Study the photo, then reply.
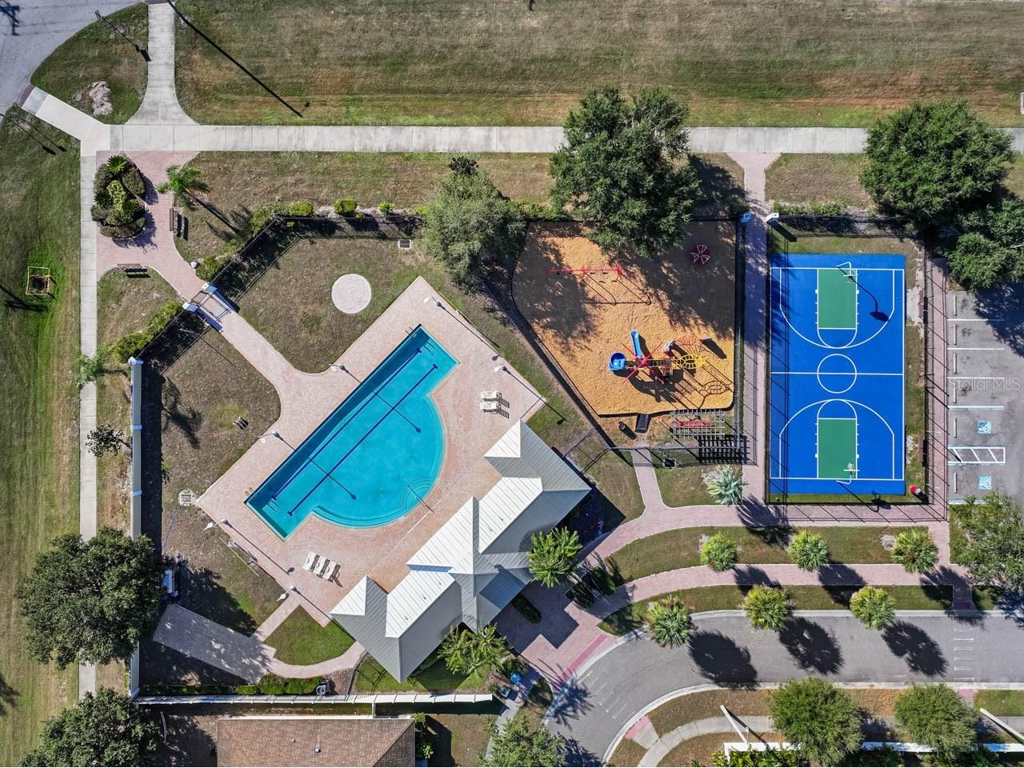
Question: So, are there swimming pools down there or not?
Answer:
Yes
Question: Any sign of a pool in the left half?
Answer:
Yes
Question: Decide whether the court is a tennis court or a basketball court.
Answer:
basketball court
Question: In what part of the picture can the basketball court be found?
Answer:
right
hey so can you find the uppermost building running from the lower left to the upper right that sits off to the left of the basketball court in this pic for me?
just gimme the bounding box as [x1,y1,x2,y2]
[330,419,592,682]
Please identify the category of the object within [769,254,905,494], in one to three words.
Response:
basketball court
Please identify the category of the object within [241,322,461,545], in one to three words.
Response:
swimming pool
